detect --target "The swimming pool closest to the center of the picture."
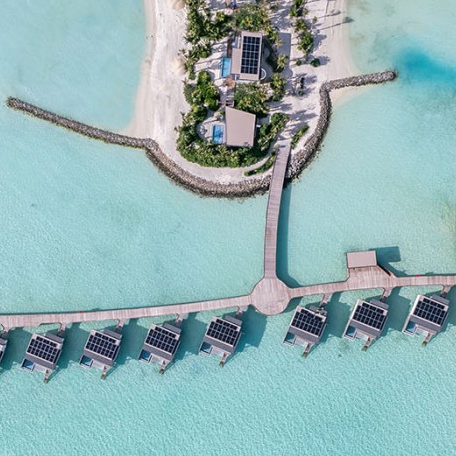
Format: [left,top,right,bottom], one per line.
[211,123,226,145]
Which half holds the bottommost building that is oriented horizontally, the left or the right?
right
